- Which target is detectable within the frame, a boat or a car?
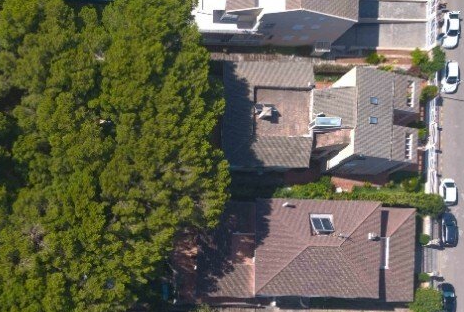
car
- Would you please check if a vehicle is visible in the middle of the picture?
No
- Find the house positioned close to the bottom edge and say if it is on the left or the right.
right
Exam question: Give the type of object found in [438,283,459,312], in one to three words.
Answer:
car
